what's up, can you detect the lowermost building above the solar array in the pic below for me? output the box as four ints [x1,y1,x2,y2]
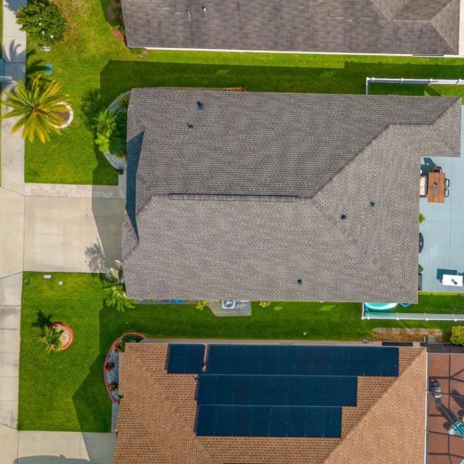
[121,89,463,304]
